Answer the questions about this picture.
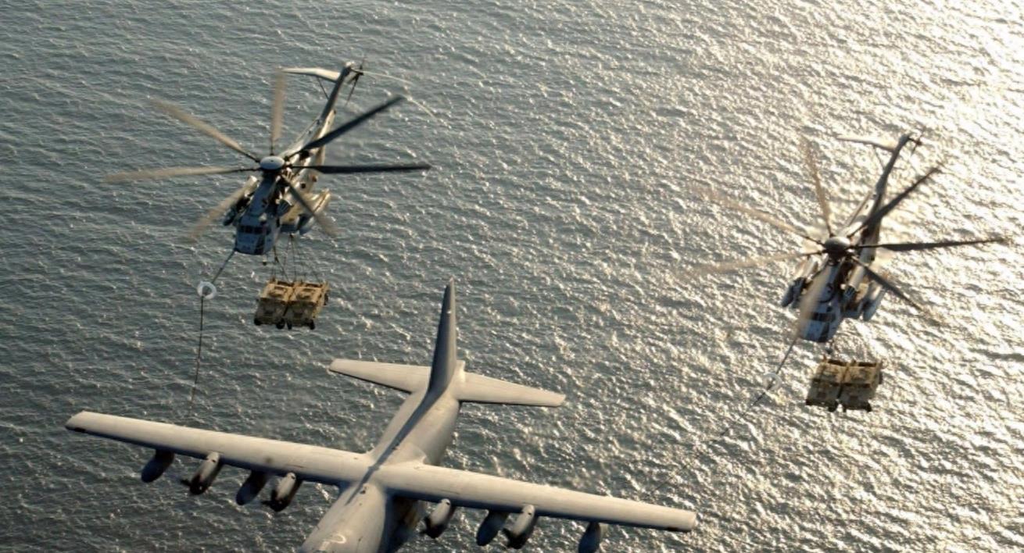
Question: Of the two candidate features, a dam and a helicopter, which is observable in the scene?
helicopter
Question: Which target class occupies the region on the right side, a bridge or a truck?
truck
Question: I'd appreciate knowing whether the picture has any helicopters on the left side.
Yes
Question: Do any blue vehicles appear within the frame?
No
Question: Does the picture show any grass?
No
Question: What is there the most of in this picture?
water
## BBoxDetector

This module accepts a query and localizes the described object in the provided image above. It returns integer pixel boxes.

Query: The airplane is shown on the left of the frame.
[68,273,702,553]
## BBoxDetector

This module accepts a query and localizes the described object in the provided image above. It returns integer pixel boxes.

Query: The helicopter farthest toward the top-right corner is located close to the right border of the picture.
[678,112,1006,383]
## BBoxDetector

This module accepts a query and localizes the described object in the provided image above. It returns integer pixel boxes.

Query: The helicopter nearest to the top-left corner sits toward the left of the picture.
[109,42,434,293]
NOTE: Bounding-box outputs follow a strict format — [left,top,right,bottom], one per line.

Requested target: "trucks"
[284,278,329,327]
[256,274,299,325]
[808,355,852,406]
[837,358,881,410]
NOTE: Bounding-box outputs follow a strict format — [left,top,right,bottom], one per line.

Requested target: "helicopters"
[678,112,1006,383]
[109,42,434,293]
